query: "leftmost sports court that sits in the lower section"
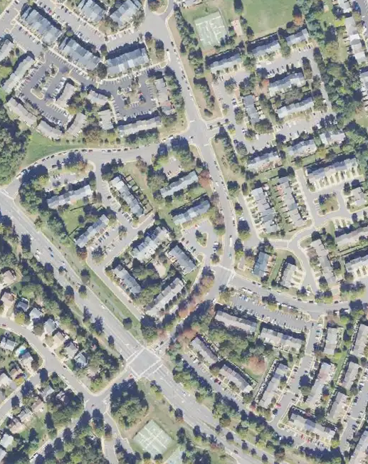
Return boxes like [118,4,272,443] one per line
[133,421,176,464]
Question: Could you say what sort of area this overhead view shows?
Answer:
residential area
